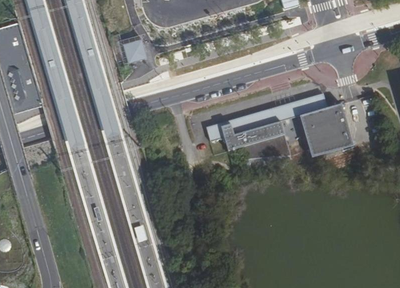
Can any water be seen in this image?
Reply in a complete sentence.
Yes, water shows up in the scene.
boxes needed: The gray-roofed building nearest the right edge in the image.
[300,102,354,156]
